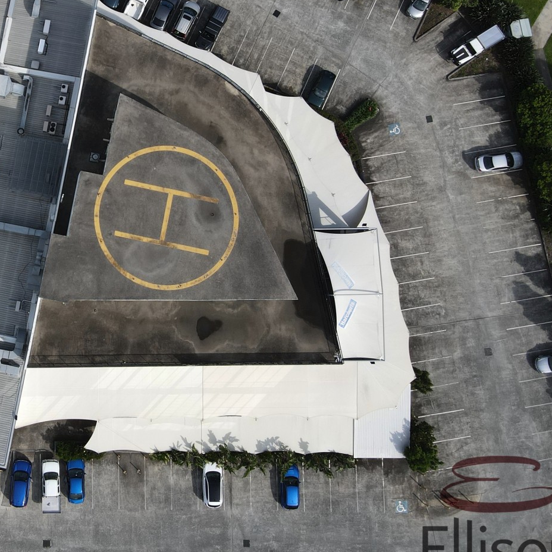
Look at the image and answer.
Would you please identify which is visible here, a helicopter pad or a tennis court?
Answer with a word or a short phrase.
helicopter pad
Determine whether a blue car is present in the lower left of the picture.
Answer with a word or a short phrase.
Yes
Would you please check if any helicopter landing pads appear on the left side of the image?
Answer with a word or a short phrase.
Yes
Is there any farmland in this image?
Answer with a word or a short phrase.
No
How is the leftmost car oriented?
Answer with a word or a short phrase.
vertically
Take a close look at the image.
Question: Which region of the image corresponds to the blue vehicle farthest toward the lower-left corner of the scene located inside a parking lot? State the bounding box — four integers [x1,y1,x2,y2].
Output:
[10,458,33,510]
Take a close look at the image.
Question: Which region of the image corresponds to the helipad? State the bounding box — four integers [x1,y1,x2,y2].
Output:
[39,94,298,300]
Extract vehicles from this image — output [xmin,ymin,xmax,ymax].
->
[196,4,232,50]
[279,471,306,511]
[10,458,33,510]
[39,458,62,513]
[171,1,200,40]
[448,21,510,67]
[202,471,227,509]
[532,351,552,374]
[405,0,432,19]
[149,0,177,30]
[104,0,123,9]
[65,459,88,504]
[124,0,149,21]
[308,61,340,109]
[473,148,524,174]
